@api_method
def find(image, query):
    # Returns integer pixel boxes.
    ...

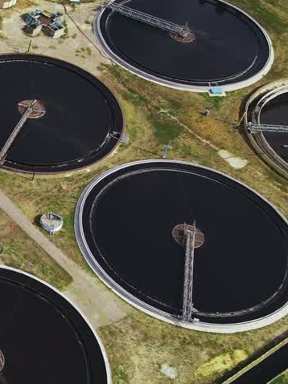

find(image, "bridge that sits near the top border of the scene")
[102,0,193,39]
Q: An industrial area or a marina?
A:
industrial area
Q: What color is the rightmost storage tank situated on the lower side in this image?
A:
black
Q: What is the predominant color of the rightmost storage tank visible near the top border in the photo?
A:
black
